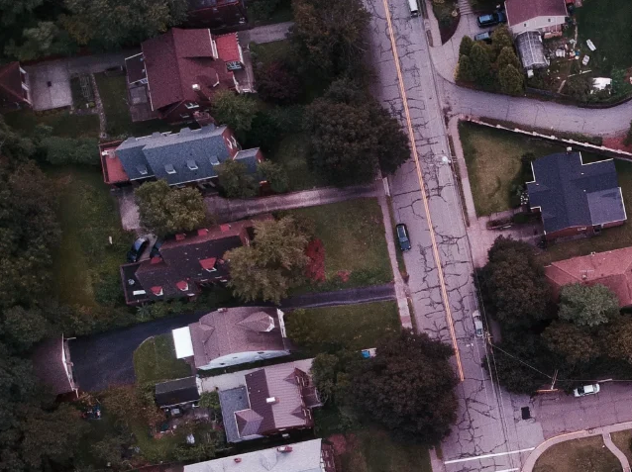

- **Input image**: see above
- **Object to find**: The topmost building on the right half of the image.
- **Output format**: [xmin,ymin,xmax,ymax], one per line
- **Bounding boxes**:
[504,0,568,43]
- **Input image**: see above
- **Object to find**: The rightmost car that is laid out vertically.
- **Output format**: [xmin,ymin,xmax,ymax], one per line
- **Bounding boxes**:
[470,310,485,340]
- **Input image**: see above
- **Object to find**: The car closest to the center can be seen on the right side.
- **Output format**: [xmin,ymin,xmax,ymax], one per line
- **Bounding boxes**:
[395,222,412,252]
